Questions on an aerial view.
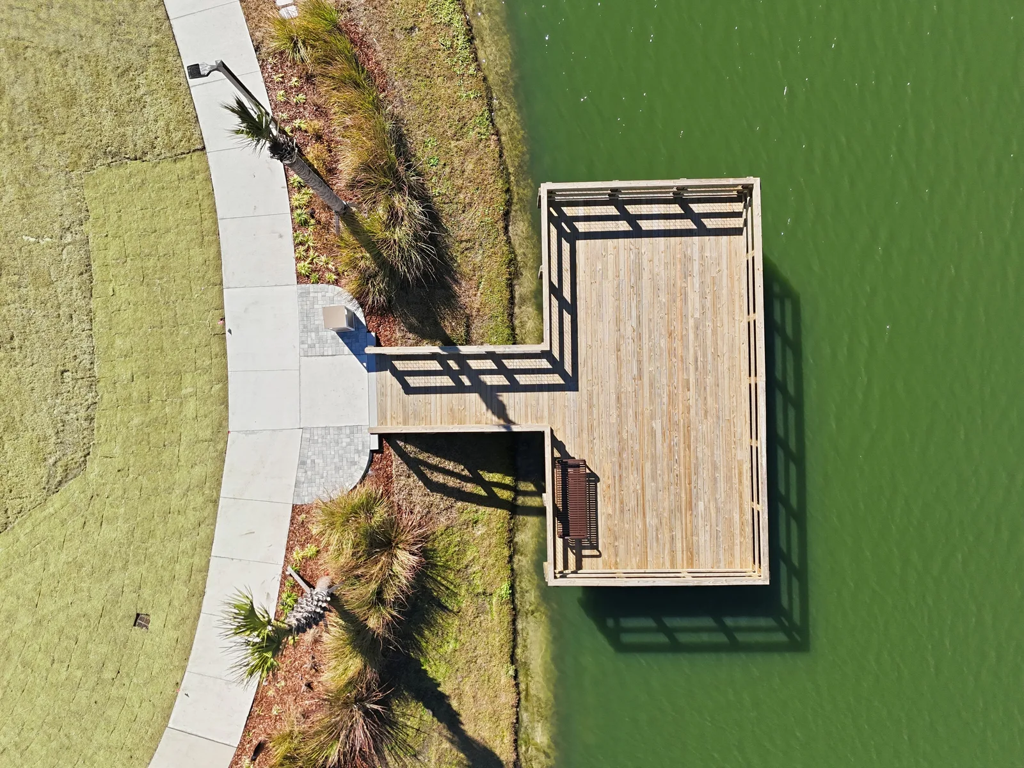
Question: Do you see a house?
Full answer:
No, the scene contains no house.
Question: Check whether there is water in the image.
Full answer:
Yes, the picture does contain water.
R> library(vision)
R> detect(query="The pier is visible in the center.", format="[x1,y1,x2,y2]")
[365,177,770,586]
